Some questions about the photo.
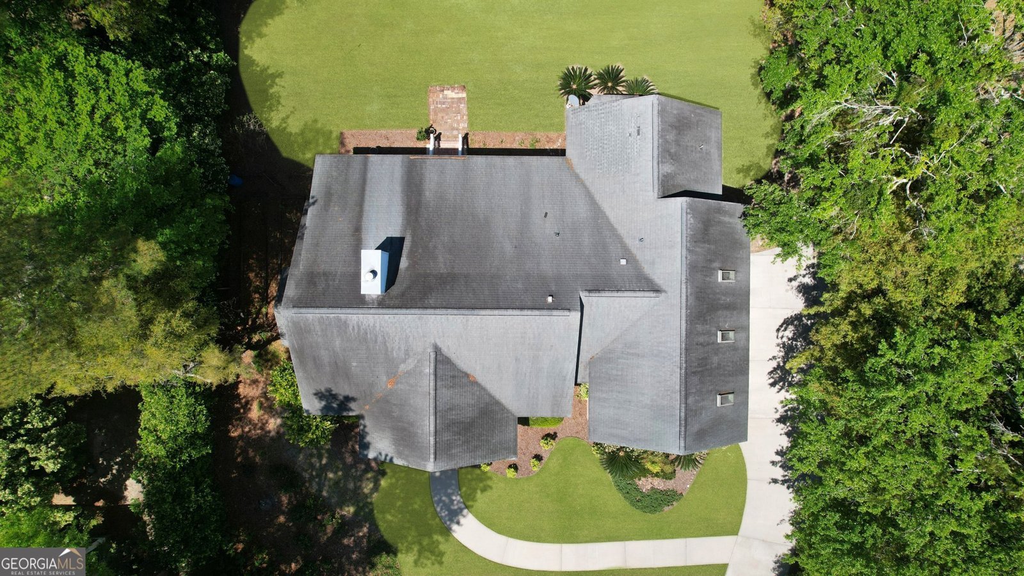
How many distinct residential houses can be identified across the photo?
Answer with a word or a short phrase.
1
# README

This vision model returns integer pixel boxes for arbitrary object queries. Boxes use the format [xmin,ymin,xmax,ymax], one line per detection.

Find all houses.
[274,95,749,470]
